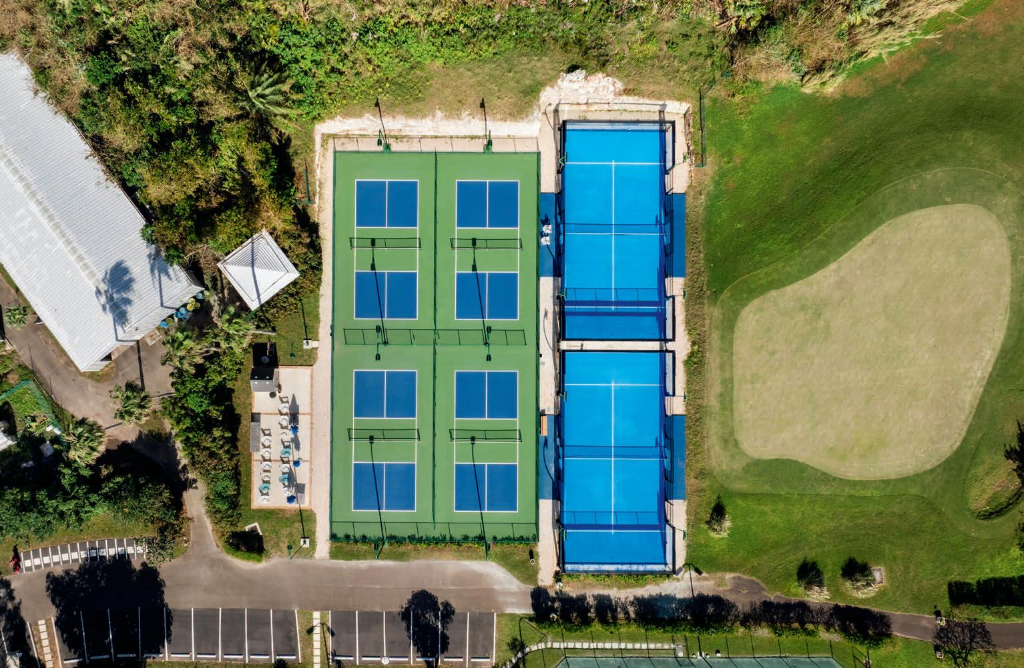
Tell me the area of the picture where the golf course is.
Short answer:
right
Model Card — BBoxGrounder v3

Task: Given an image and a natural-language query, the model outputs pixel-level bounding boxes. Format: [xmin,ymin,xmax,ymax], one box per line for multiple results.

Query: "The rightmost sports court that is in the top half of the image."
[560,120,681,340]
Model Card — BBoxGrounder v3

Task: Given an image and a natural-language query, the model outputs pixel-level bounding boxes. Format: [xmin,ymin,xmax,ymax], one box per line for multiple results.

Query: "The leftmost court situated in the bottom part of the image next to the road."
[331,344,434,540]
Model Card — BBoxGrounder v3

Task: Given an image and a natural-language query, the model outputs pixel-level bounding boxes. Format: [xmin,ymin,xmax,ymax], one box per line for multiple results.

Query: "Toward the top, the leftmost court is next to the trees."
[333,150,435,344]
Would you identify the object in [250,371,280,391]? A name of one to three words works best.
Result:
shed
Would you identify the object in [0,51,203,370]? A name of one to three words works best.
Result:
building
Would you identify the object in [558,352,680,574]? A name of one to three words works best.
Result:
sports court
